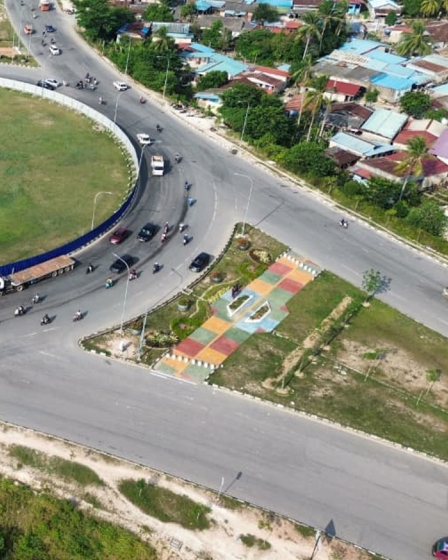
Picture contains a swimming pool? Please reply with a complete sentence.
No, the picture doesn't show any swimming pool.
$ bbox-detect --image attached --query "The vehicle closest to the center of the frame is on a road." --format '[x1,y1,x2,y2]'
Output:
[187,253,213,271]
